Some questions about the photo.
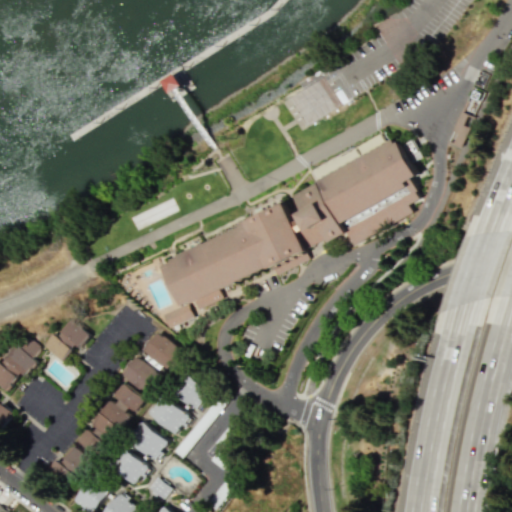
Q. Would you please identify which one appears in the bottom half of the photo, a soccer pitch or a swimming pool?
swimming pool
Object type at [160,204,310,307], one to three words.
building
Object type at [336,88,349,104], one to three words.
vehicle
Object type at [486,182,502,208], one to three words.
vehicle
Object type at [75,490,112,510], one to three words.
house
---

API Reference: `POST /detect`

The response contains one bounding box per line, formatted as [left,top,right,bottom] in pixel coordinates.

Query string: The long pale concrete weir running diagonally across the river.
[71,0,291,139]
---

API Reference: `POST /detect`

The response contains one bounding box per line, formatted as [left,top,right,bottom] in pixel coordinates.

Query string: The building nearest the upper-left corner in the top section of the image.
[161,75,189,102]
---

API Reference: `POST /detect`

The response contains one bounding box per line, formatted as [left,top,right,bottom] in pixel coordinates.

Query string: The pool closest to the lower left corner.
[44,354,80,392]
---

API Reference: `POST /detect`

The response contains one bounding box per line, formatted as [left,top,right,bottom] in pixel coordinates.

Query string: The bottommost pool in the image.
[162,458,206,497]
